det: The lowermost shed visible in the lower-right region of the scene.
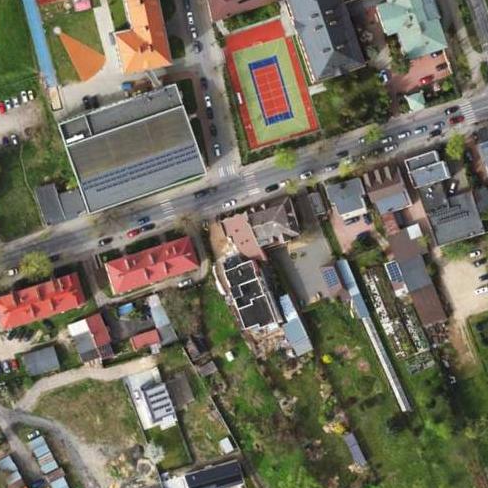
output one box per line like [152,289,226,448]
[343,433,367,467]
